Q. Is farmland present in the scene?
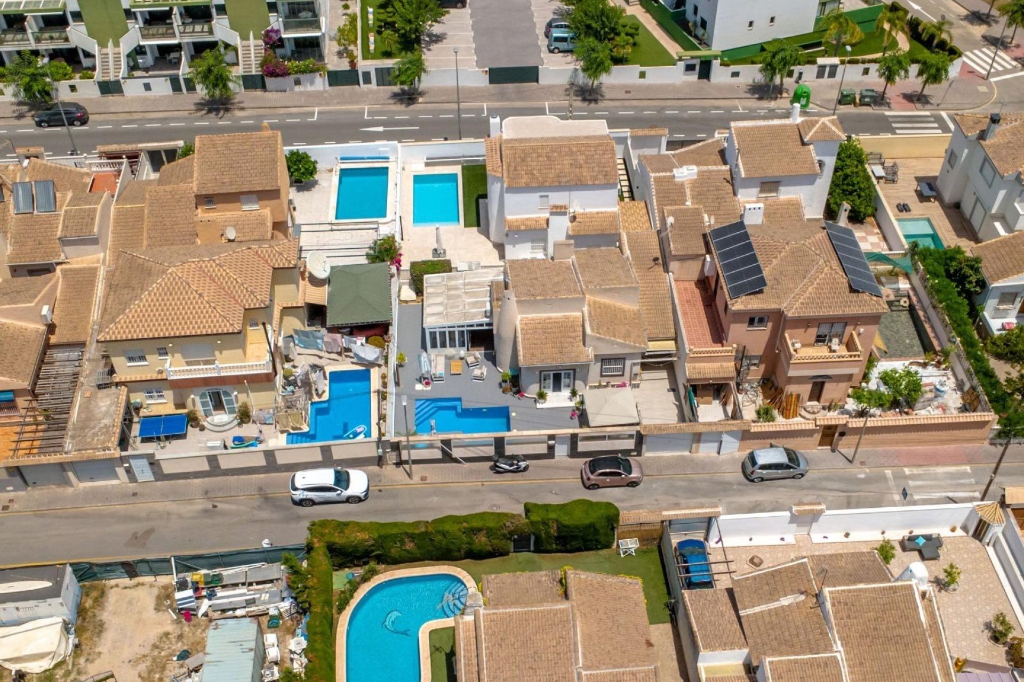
No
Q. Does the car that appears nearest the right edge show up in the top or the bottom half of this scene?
bottom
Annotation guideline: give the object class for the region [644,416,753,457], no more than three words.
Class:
building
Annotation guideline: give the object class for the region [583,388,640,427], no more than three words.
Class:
gazebo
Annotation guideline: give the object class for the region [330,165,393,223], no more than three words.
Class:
swimming pool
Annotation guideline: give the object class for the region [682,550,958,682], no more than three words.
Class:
house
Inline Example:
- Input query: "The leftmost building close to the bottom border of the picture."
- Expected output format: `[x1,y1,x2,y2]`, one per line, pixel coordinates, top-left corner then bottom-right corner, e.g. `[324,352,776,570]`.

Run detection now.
[457,570,658,682]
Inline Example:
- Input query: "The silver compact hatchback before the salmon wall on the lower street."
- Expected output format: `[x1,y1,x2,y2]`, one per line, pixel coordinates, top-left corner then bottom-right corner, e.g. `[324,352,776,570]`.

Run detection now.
[742,444,813,483]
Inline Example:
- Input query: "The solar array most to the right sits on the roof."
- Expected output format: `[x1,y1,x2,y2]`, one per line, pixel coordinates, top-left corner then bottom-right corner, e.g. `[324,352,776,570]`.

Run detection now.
[822,220,883,306]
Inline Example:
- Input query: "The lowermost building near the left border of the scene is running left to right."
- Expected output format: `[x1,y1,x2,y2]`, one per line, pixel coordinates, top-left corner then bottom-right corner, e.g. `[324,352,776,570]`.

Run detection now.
[0,440,126,489]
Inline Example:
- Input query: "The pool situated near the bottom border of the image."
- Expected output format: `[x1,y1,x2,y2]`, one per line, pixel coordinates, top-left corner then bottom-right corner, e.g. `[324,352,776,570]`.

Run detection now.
[337,565,478,682]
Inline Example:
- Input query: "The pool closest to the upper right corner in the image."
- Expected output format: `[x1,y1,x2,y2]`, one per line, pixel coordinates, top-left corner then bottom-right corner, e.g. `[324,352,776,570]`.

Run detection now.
[894,215,942,252]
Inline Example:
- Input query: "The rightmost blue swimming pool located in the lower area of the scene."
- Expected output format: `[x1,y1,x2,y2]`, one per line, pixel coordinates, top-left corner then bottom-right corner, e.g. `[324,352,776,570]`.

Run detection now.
[415,397,510,433]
